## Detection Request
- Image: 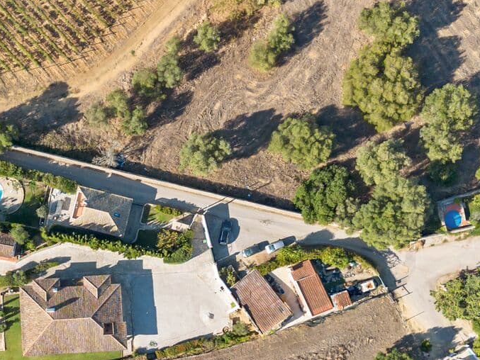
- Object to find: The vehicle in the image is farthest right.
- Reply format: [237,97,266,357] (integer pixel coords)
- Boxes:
[359,279,377,292]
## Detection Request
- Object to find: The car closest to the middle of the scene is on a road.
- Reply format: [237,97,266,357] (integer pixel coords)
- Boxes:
[222,220,234,244]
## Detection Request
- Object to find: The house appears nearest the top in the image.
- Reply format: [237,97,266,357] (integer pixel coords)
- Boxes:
[70,186,133,237]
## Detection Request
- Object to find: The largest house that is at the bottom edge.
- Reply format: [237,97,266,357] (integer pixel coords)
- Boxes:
[19,275,126,357]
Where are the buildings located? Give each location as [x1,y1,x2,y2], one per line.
[288,261,333,318]
[19,275,126,357]
[0,237,21,263]
[330,290,351,310]
[231,270,292,332]
[70,186,133,237]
